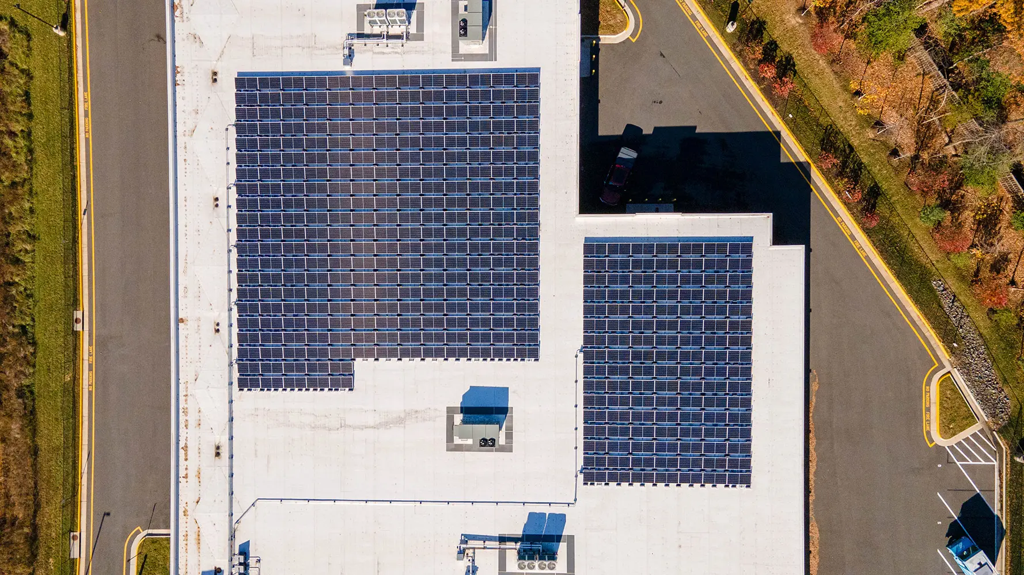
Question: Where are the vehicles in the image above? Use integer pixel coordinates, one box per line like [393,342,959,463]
[599,145,640,207]
[943,530,998,575]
